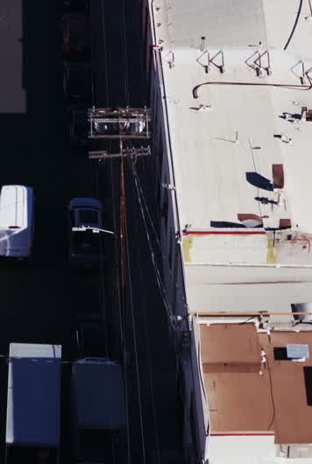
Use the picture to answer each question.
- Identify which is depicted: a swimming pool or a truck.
truck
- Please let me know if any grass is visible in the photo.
No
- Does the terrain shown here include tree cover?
No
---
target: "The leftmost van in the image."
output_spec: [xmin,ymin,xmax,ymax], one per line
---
[0,190,32,264]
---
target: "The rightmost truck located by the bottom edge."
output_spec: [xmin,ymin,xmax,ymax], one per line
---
[68,358,128,464]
